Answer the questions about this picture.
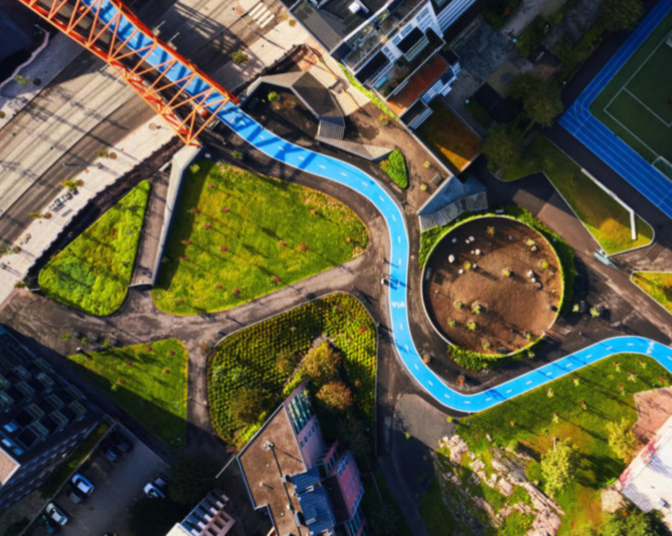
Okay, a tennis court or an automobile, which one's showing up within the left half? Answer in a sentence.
You can see an automobile within the left half.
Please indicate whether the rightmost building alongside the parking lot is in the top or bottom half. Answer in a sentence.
The bottom half of the photo is where the rightmost building alongside the parking lot is.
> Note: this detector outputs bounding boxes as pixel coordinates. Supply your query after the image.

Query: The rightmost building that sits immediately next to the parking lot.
[237,381,376,536]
